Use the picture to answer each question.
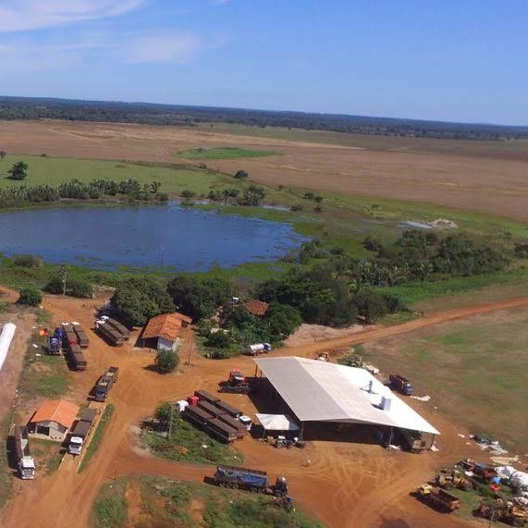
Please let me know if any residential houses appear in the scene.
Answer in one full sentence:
Yes, a residential house appears in the view.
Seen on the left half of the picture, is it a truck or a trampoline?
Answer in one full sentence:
The one visible on the left half of the picture is a truck.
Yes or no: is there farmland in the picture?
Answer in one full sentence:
Yes, farmland can be seen from above here.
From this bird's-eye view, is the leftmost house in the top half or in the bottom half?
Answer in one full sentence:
The leftmost house is in the bottom half of the image.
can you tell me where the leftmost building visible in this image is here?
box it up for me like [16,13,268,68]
[31,400,76,439]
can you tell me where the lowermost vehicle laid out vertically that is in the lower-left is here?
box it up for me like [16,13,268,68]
[8,425,35,478]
